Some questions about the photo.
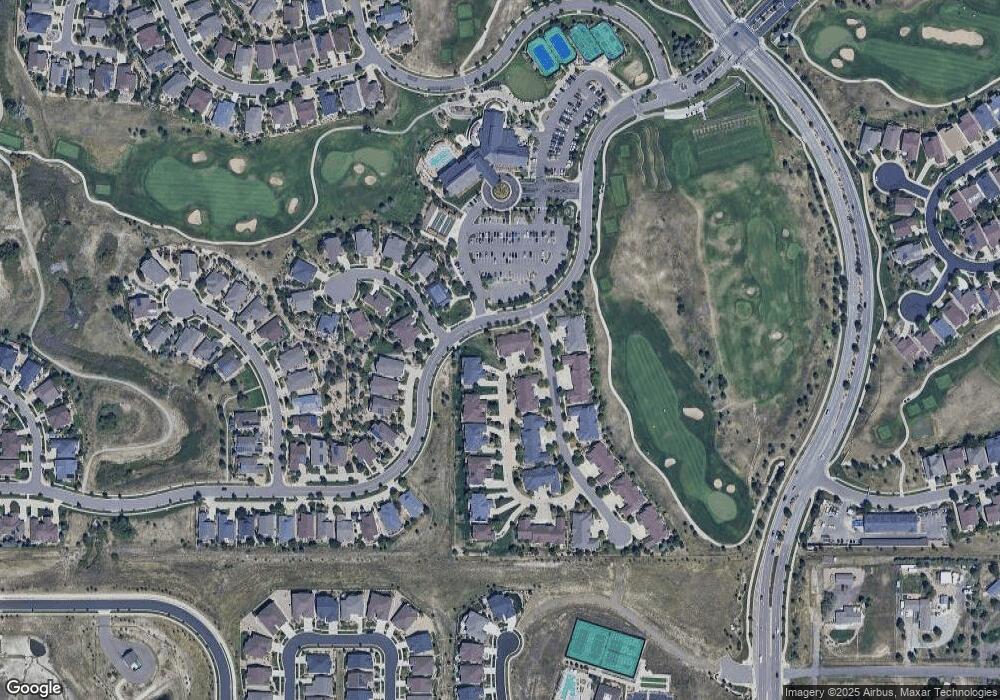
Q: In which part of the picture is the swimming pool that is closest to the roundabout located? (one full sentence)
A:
The swimming pool that is closest to the roundabout is located in the top region of the scene.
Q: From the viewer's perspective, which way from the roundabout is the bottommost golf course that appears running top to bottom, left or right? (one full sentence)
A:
To the right of the roundabout is where the bottommost golf course that appears running top to bottom appears.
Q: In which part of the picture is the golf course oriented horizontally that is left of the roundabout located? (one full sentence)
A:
You can find the golf course oriented horizontally that is left of the roundabout in the top left area of the picture.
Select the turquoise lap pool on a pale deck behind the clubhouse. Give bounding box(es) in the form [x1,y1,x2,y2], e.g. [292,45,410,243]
[423,144,458,172]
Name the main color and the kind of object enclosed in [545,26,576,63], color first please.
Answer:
blue tennis court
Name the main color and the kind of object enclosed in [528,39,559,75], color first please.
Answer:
blue tennis court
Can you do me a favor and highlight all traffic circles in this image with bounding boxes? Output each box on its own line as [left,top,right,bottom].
[481,171,521,212]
